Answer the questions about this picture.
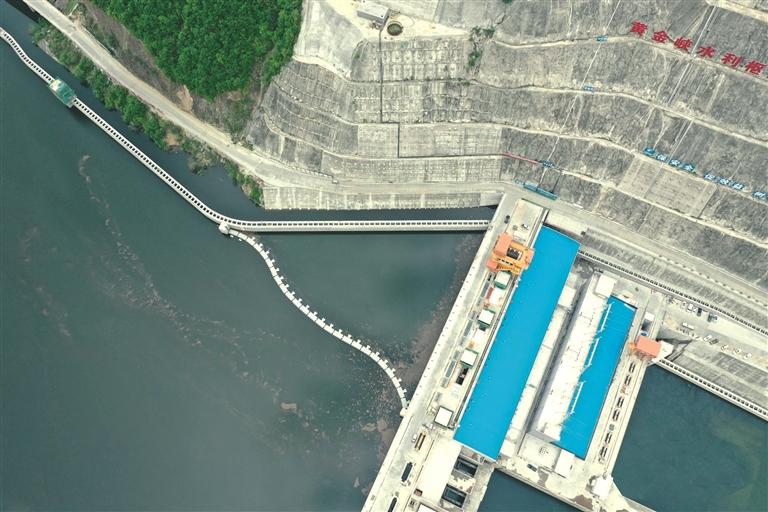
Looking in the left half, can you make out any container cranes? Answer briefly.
No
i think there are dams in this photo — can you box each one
[362,193,547,512]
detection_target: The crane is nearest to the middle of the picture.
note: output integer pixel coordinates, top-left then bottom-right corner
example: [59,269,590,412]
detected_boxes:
[485,232,538,277]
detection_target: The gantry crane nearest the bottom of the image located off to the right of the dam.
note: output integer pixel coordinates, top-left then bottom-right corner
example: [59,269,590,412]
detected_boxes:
[628,337,662,366]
